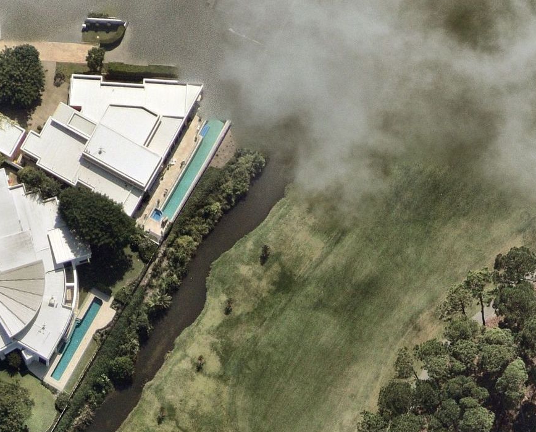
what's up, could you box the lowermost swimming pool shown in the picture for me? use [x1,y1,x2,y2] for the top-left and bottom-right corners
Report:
[50,296,103,382]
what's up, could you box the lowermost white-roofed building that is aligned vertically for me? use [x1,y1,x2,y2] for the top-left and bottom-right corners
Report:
[0,168,94,366]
